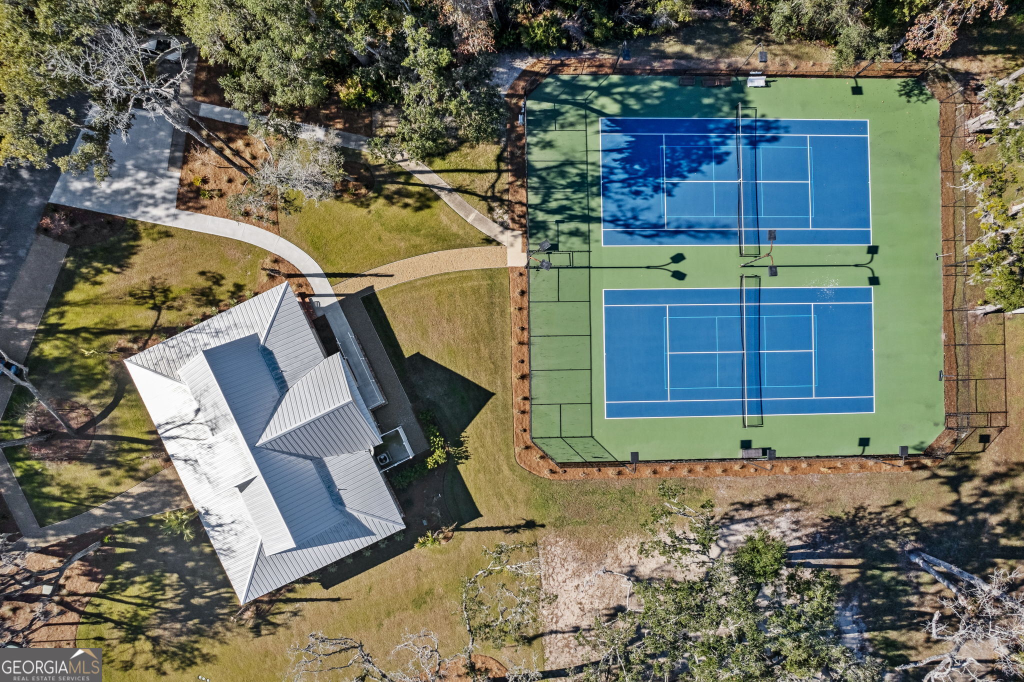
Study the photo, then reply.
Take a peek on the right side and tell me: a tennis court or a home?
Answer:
tennis court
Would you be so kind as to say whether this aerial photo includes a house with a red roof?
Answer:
No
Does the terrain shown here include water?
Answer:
No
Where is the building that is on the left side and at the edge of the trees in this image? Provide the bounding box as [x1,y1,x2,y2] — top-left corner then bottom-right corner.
[126,283,406,603]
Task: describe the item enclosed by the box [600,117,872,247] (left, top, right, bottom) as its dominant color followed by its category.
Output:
blue tennis court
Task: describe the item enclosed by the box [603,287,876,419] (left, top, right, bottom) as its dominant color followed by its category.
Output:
blue tennis court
